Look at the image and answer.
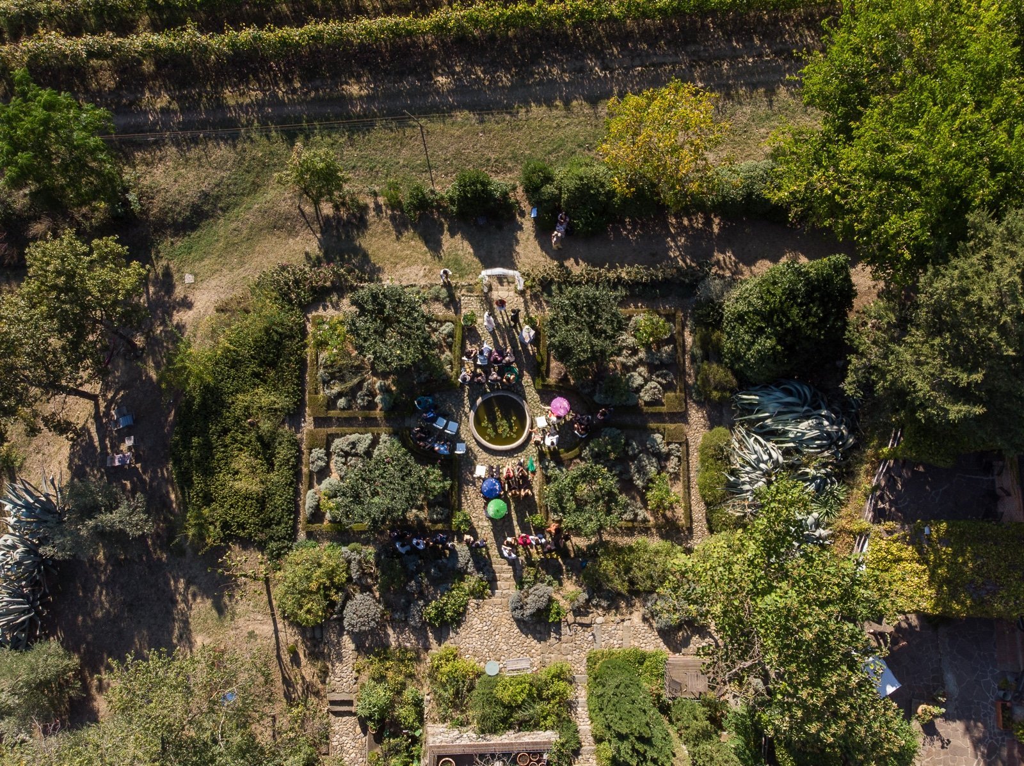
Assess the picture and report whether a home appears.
No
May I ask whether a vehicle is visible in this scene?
No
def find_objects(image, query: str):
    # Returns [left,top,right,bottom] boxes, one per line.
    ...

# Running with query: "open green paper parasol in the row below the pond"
[487,500,508,521]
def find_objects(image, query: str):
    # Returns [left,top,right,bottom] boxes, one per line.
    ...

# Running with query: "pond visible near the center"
[469,391,532,453]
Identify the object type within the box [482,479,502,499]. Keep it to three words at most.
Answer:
umbrella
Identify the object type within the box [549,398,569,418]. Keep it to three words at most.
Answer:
umbrella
